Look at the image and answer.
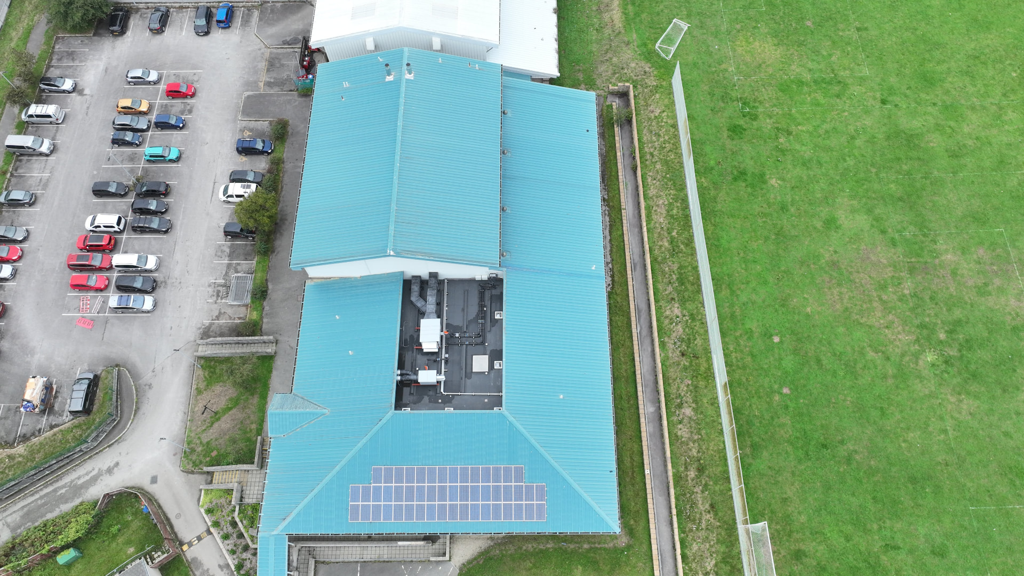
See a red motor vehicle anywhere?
Yes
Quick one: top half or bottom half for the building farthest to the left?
bottom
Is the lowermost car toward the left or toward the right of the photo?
left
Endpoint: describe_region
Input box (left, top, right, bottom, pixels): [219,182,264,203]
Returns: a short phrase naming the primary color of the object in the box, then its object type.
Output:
white vehicle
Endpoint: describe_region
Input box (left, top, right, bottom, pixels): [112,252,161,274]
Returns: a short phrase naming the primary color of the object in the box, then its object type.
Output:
white car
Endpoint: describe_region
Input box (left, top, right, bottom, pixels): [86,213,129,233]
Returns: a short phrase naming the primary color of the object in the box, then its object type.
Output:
white car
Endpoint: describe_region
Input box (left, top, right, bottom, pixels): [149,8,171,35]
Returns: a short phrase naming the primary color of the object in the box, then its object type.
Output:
gray car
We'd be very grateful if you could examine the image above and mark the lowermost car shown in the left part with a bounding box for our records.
[66,371,101,419]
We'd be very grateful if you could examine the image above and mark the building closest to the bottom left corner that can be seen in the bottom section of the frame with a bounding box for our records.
[54,545,84,568]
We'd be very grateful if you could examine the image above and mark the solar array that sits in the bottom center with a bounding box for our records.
[348,467,547,521]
